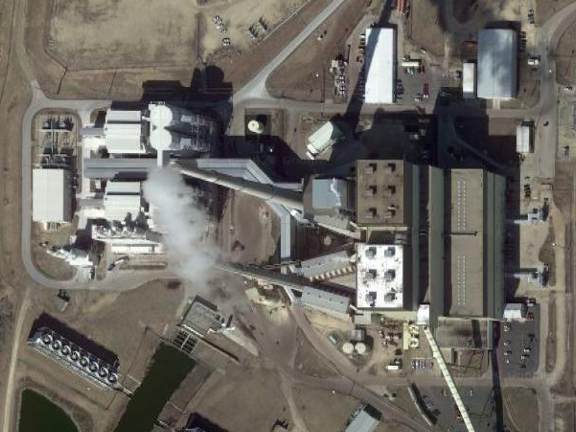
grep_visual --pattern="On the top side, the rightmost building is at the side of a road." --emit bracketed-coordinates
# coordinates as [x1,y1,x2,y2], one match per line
[517,125,533,153]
